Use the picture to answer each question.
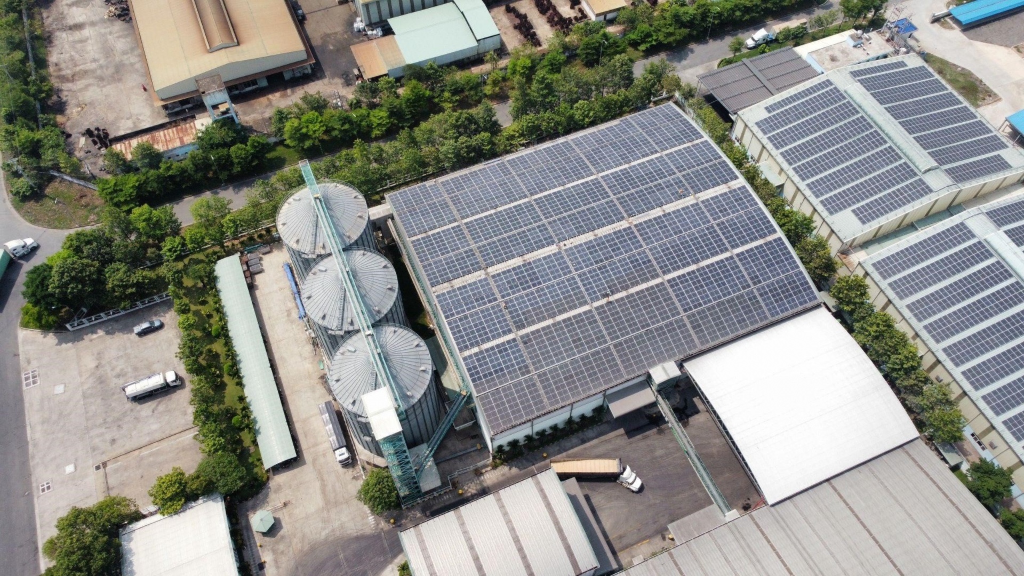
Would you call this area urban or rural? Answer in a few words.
urban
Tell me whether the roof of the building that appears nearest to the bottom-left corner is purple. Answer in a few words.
No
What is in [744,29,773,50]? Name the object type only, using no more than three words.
truck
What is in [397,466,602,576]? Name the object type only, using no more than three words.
building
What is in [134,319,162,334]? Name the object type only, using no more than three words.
vehicle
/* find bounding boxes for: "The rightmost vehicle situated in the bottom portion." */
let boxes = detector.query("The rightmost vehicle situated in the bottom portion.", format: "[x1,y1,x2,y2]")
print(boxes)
[604,467,648,496]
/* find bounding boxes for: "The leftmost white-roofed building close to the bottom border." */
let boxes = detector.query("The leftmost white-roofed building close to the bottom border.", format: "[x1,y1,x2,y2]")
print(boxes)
[117,489,244,576]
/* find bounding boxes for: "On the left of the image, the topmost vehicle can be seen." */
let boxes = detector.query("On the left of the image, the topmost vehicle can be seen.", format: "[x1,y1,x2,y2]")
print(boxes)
[292,6,306,19]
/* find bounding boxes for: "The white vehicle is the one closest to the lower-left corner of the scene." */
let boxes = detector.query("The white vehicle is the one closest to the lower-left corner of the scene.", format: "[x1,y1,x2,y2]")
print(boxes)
[117,370,185,401]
